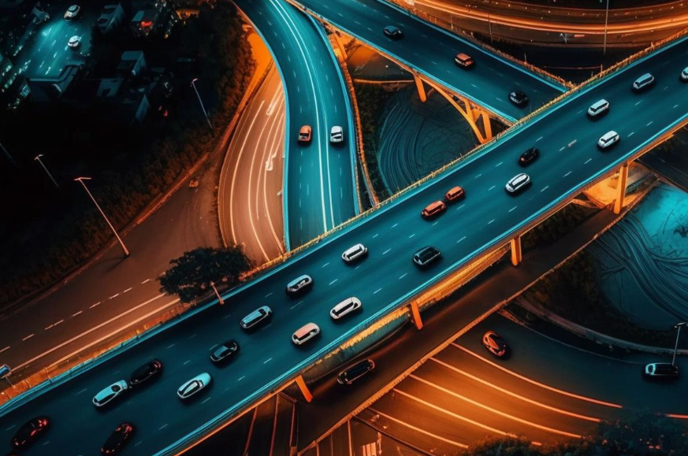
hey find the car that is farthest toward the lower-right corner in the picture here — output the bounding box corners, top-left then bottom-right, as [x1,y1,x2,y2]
[644,360,680,379]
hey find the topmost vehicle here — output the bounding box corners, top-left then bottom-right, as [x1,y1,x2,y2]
[61,1,82,20]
